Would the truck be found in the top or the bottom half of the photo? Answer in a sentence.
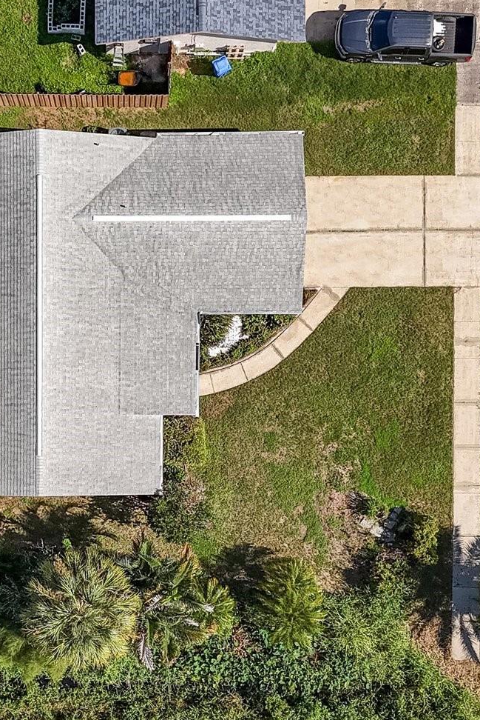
The truck is in the top half of the image.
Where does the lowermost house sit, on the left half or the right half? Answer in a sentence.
You can find the lowermost house on the left side of the picture.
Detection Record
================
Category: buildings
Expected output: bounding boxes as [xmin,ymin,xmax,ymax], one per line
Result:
[94,0,307,53]
[0,126,309,499]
